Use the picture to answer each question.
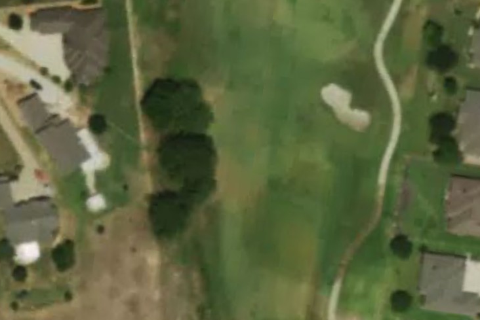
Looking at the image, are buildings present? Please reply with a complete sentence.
Yes, you can see a building in this photo.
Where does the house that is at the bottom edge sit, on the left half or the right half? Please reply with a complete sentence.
The house that is at the bottom edge appears in the right half of the scene.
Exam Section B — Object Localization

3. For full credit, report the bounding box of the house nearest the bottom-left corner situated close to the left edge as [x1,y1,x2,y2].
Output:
[0,179,60,246]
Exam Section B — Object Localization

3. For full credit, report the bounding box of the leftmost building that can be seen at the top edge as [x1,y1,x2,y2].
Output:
[29,6,107,89]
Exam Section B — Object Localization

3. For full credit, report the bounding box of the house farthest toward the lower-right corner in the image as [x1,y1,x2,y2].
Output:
[419,253,480,317]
